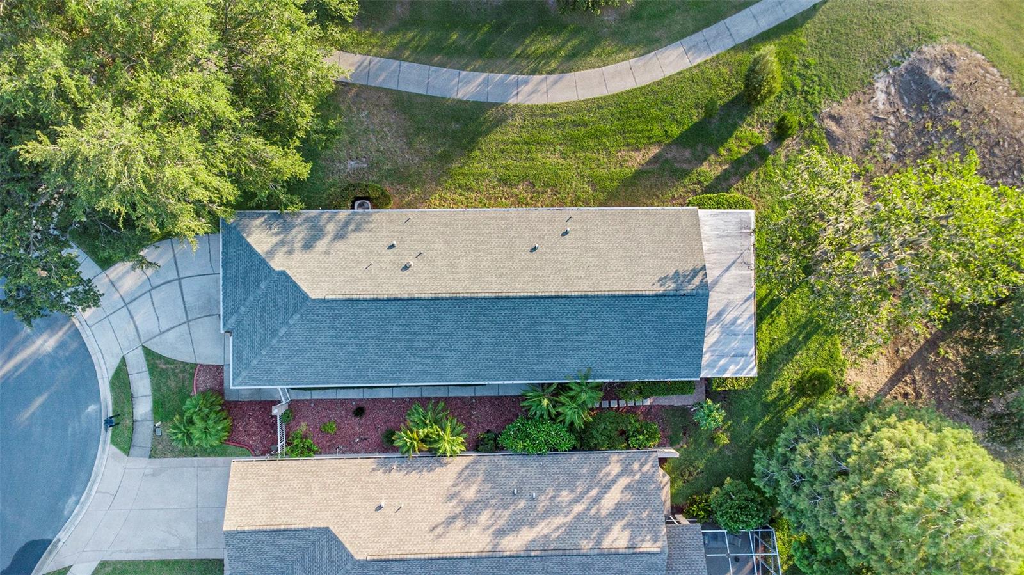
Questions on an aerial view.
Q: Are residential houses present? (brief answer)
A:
Yes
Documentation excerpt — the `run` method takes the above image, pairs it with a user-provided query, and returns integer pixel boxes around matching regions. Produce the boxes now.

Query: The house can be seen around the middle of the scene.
[217,204,759,390]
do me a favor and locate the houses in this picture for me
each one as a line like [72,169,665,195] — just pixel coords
[223,448,710,575]
[217,204,759,390]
